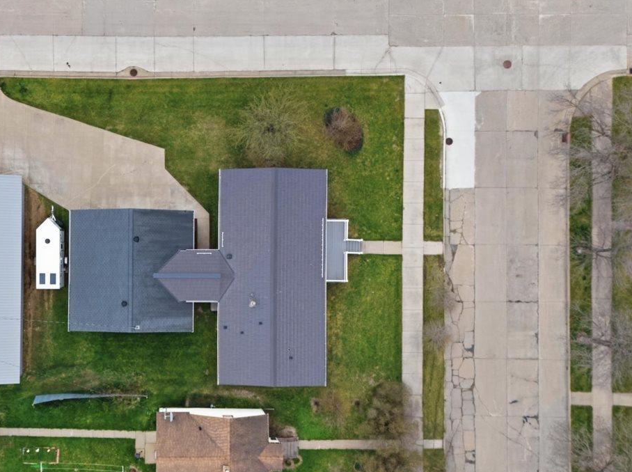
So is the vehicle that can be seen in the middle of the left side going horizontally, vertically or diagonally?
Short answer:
vertically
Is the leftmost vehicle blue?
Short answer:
No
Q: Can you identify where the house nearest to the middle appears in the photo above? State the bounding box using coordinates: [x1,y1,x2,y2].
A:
[154,166,367,389]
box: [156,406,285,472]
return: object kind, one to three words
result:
house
